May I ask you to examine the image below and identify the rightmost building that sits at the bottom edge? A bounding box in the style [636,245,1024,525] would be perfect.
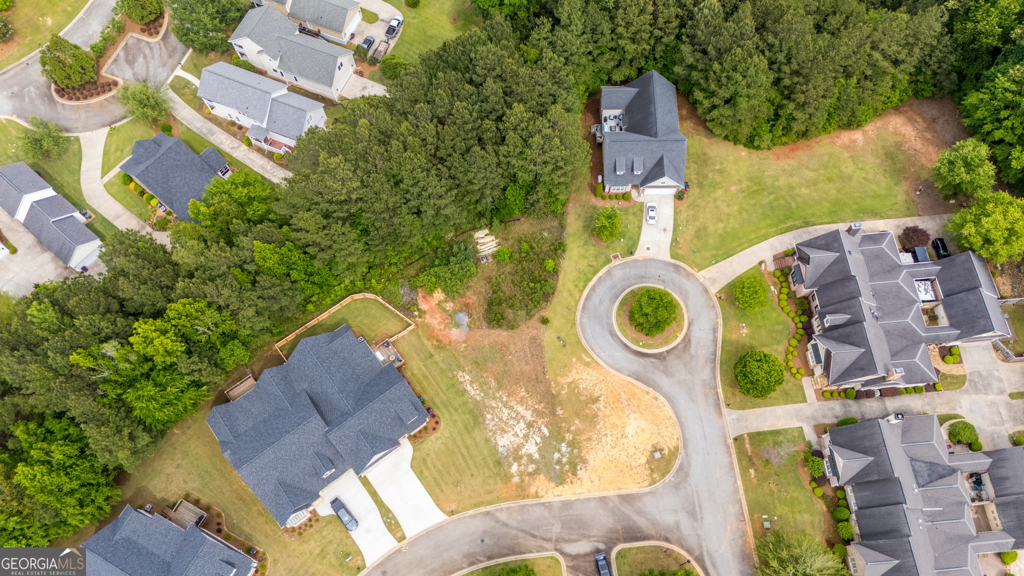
[820,406,1024,576]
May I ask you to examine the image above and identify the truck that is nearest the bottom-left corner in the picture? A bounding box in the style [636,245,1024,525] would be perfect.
[329,494,360,535]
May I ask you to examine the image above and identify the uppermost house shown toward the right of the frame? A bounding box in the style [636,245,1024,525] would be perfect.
[600,70,687,195]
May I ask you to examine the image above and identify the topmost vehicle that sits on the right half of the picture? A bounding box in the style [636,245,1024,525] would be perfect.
[645,201,658,227]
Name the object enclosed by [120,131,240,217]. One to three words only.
house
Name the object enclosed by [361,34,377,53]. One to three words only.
car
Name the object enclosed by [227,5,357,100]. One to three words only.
house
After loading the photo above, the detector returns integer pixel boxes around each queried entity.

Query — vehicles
[383,16,404,41]
[931,235,952,262]
[361,34,377,53]
[329,494,360,535]
[594,550,614,576]
[645,201,658,227]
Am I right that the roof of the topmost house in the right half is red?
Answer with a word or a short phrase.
No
